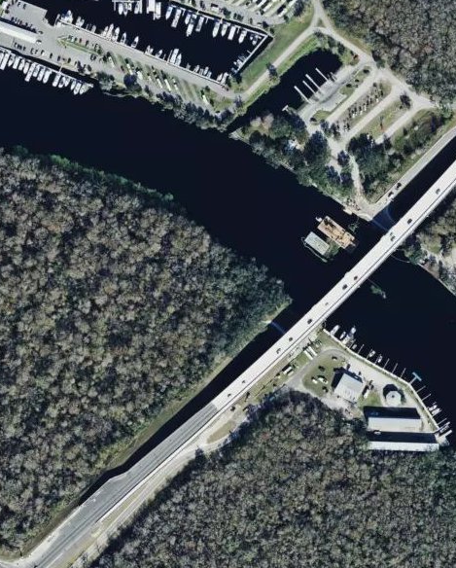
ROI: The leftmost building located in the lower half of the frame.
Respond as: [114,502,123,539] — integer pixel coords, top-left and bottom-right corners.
[335,374,364,401]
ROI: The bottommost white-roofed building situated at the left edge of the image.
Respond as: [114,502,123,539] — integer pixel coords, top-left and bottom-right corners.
[0,21,38,42]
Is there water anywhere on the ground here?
Yes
